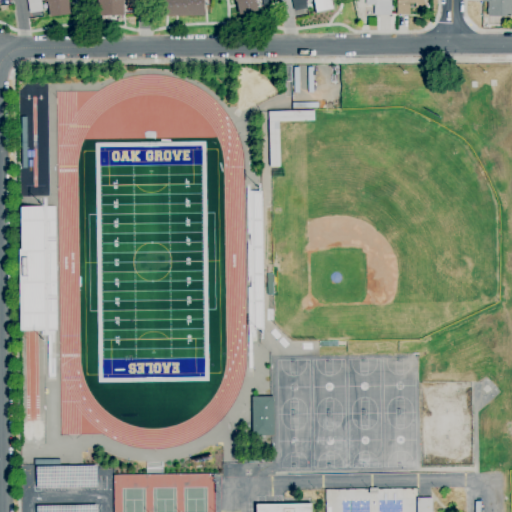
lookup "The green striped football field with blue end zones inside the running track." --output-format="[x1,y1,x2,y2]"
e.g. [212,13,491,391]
[79,138,227,428]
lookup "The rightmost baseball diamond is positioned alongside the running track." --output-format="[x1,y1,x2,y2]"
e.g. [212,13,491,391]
[273,107,500,339]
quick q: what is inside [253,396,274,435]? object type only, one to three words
building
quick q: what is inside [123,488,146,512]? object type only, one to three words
tennis court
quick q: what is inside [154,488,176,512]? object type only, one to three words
tennis court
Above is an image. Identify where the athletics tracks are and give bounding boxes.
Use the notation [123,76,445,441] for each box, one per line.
[58,74,248,449]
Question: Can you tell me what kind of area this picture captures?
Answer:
sports ground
